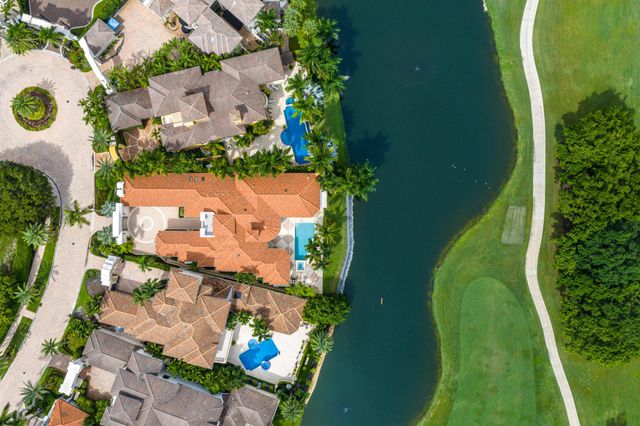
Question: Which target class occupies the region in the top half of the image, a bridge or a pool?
pool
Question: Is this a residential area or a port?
residential area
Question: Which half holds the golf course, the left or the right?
right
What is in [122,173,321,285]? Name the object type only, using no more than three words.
house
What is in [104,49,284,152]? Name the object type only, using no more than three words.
house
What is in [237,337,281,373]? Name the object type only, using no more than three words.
swimming pool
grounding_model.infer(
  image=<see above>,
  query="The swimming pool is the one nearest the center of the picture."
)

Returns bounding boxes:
[291,220,319,263]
